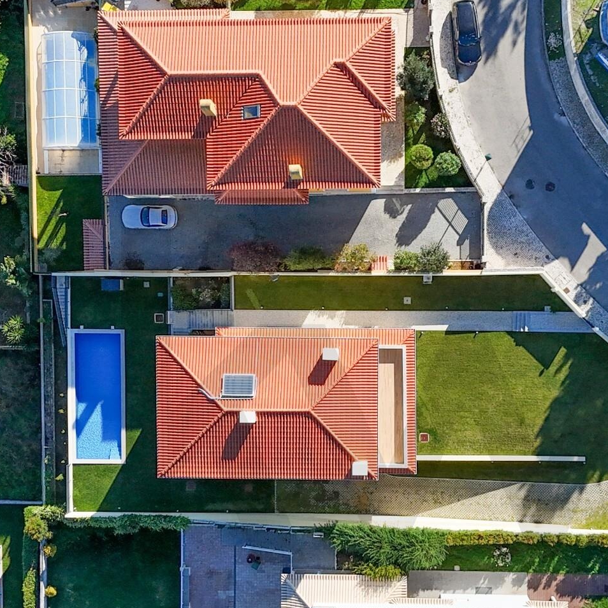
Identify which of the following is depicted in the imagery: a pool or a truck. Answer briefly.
pool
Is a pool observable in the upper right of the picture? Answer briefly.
No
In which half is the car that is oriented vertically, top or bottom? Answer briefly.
top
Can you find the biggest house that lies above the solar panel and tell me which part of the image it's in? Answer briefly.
top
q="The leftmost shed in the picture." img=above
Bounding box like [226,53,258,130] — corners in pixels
[81,217,119,272]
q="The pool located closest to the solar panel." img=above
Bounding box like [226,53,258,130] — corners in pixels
[70,328,127,465]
